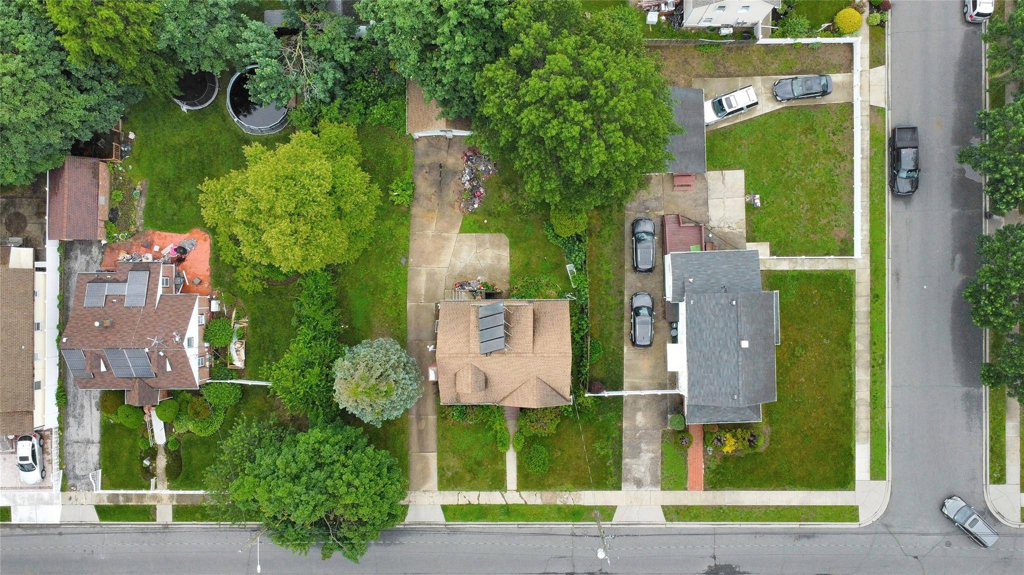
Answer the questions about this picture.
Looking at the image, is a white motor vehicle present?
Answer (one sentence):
Yes, the frame does contain a white motor vehicle.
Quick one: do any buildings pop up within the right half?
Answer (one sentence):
Yes, a building is visible within the right half.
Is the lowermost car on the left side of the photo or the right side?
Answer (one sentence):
The lowermost car sits on the right side.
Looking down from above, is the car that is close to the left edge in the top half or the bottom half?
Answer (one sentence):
Seen from above, the car that is close to the left edge lies in the bottom half of the view.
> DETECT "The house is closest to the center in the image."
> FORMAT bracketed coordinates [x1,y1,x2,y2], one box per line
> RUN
[429,299,574,409]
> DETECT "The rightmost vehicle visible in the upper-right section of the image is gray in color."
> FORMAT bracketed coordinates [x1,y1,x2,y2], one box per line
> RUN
[959,0,992,27]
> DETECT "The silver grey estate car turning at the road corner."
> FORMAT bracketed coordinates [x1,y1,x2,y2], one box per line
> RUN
[937,492,1001,548]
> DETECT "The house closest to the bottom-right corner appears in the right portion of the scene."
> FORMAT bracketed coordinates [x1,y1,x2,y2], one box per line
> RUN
[659,249,782,424]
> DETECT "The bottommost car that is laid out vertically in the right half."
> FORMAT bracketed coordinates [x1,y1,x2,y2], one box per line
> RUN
[629,292,656,349]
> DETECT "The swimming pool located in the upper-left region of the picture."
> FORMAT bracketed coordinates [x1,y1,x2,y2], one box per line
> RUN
[227,69,293,133]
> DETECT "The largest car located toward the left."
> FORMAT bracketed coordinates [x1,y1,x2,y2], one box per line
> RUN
[17,431,50,486]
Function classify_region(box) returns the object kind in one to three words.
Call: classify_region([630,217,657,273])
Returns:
car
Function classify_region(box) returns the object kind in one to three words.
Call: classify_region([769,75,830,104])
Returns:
car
